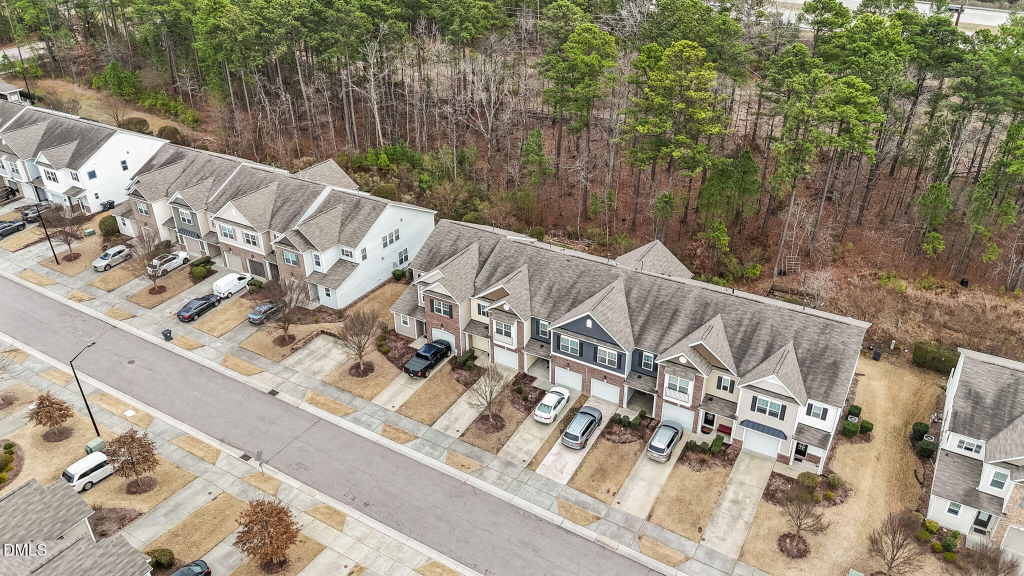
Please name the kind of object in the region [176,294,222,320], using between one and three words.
car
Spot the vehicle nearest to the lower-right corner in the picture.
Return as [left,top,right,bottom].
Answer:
[647,417,686,462]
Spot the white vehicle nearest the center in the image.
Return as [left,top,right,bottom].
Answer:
[531,385,571,423]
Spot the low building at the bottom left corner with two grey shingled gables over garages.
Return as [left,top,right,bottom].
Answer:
[0,478,152,576]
